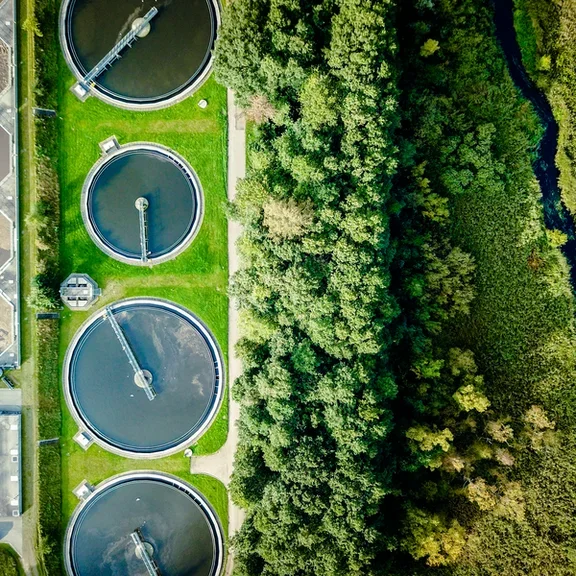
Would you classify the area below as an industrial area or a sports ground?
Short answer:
industrial area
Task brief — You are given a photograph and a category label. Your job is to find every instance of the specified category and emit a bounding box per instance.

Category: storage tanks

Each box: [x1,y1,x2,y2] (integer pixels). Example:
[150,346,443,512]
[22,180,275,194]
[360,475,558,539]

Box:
[62,296,225,458]
[60,0,223,110]
[64,469,225,576]
[82,142,205,266]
